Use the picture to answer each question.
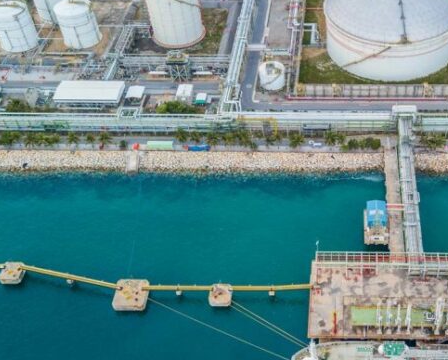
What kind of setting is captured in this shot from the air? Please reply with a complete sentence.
It's an industrial area.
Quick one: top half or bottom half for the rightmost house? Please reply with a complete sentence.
The rightmost house sits in the top half of the picture.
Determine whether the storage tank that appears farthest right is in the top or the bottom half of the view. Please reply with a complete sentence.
The top half of the photo is where the storage tank that appears farthest right is.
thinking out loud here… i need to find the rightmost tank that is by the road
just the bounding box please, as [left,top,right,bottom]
[324,0,448,82]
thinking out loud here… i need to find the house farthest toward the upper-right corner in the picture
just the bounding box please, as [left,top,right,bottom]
[390,105,418,132]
